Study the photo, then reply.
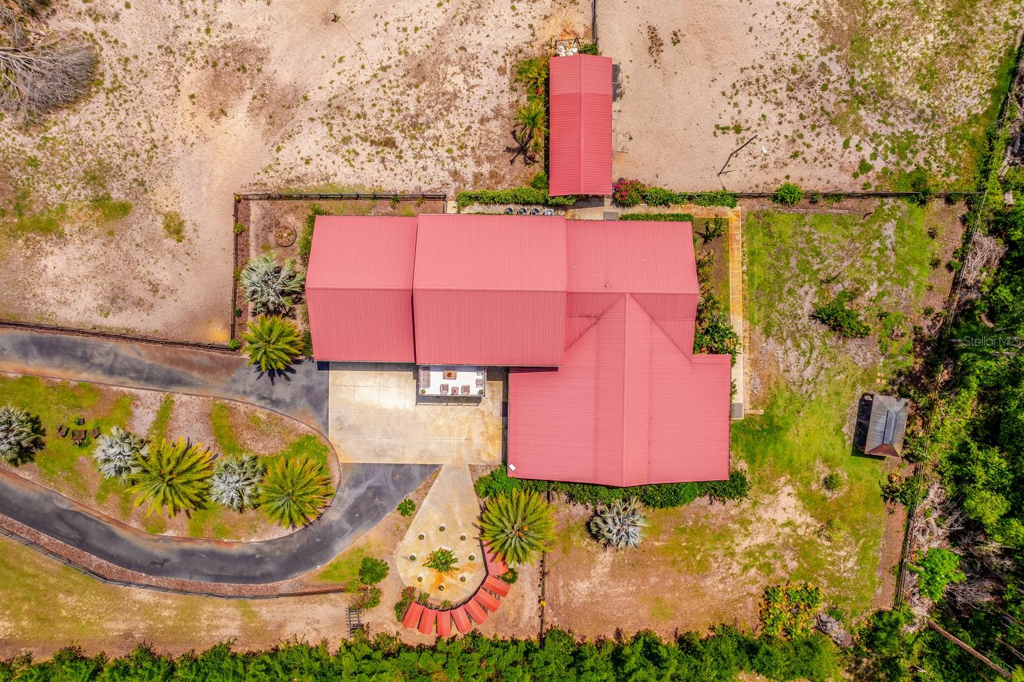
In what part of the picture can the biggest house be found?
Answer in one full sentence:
The biggest house is located in the center region of the scene.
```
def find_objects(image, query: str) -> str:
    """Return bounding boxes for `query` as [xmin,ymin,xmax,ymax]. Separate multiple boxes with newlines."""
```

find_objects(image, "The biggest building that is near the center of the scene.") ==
[305,212,731,489]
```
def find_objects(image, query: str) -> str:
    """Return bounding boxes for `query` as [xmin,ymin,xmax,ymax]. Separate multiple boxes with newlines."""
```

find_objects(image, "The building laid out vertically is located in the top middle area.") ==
[549,51,613,198]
